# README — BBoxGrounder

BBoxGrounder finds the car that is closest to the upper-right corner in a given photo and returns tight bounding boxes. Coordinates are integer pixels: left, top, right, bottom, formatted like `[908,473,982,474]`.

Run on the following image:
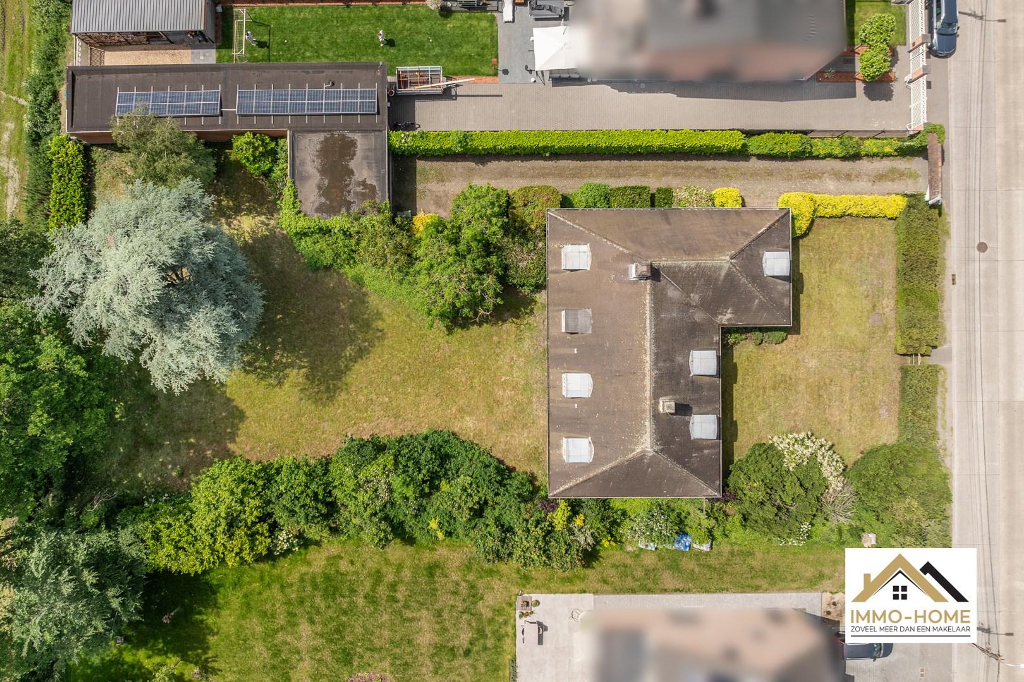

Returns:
[927,0,962,60]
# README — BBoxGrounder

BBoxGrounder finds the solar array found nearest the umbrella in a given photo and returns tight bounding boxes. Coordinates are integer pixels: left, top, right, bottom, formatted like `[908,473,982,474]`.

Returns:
[236,83,379,124]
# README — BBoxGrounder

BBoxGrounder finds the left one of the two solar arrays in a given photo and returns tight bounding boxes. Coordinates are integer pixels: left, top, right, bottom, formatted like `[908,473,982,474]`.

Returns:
[116,84,224,125]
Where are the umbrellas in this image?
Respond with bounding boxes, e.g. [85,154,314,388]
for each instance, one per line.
[533,6,583,71]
